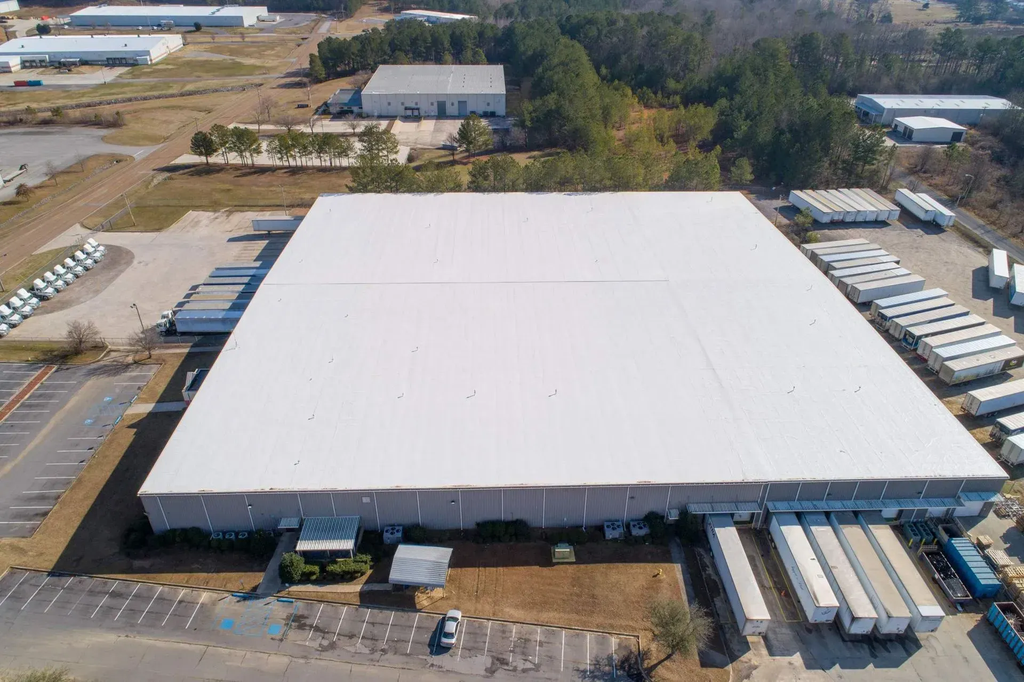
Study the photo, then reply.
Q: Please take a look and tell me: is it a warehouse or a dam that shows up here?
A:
warehouse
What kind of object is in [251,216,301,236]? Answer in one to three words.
trailer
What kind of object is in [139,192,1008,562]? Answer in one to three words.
warehouse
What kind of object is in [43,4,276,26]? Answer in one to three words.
building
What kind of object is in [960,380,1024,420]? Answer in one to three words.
trailer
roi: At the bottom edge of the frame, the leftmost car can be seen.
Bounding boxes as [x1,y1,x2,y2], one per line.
[440,609,462,650]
